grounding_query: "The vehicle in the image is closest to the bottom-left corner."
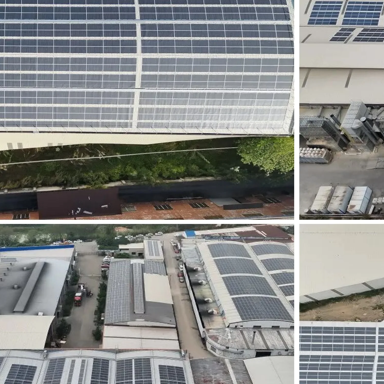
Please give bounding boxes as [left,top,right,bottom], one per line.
[73,278,101,305]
